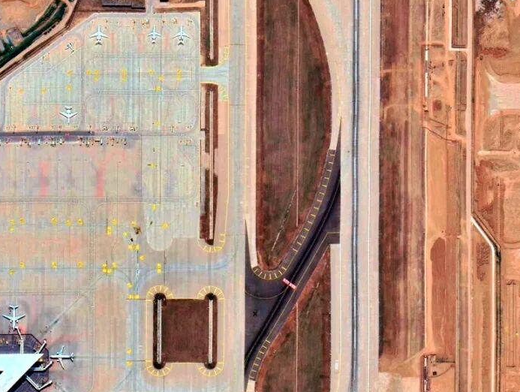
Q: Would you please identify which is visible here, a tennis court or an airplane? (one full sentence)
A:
The image shows an airplane.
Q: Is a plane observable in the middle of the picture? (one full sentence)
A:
No, I can find no plane in the middle of the picture.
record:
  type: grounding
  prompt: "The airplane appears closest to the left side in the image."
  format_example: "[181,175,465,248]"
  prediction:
[2,305,25,330]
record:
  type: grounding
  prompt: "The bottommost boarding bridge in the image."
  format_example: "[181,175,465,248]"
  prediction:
[24,375,54,392]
